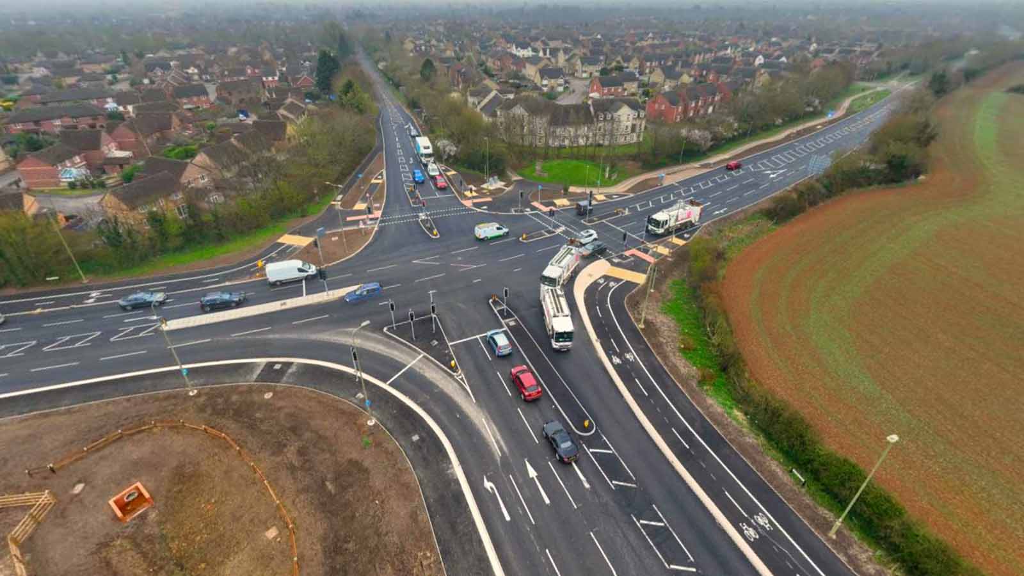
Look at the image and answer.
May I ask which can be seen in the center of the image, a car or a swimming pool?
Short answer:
car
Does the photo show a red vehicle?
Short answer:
Yes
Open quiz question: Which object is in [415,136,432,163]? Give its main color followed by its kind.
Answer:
white vehicle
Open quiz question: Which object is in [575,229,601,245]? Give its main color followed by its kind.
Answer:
white car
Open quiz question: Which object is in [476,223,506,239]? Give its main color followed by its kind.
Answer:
white vehicle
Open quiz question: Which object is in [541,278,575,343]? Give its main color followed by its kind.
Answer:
white truck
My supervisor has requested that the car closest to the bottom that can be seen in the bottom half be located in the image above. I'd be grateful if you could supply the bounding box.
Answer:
[542,422,582,468]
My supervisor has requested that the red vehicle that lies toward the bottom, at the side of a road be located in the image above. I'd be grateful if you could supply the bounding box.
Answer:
[511,368,543,403]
